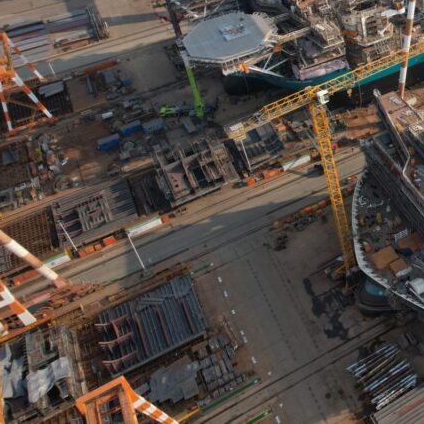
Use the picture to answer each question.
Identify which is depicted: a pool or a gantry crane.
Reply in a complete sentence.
Looking from above, you can make out a gantry crane.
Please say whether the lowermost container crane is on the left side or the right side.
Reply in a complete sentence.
The lowermost container crane sits on the left side.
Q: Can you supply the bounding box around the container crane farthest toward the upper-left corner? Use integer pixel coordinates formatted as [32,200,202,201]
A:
[0,25,61,136]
